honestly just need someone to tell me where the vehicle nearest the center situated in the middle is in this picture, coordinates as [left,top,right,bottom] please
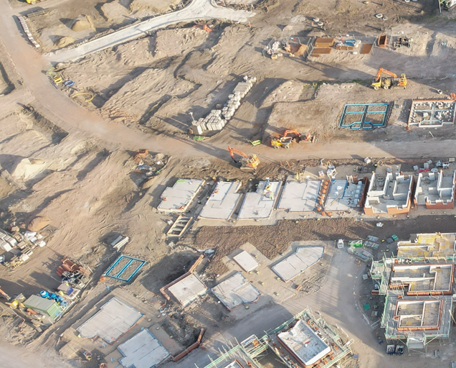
[226,149,262,171]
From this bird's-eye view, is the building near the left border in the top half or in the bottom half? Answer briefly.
bottom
